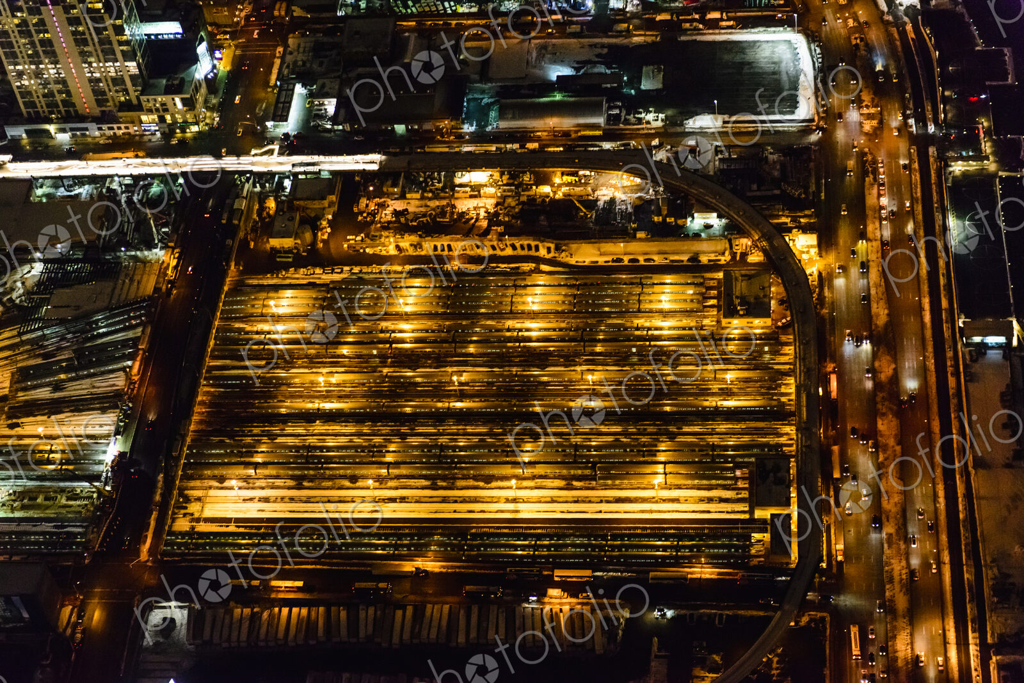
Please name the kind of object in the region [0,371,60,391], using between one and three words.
rail car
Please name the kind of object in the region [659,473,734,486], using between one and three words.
rail car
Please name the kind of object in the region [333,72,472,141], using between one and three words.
building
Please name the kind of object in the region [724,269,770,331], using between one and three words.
building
